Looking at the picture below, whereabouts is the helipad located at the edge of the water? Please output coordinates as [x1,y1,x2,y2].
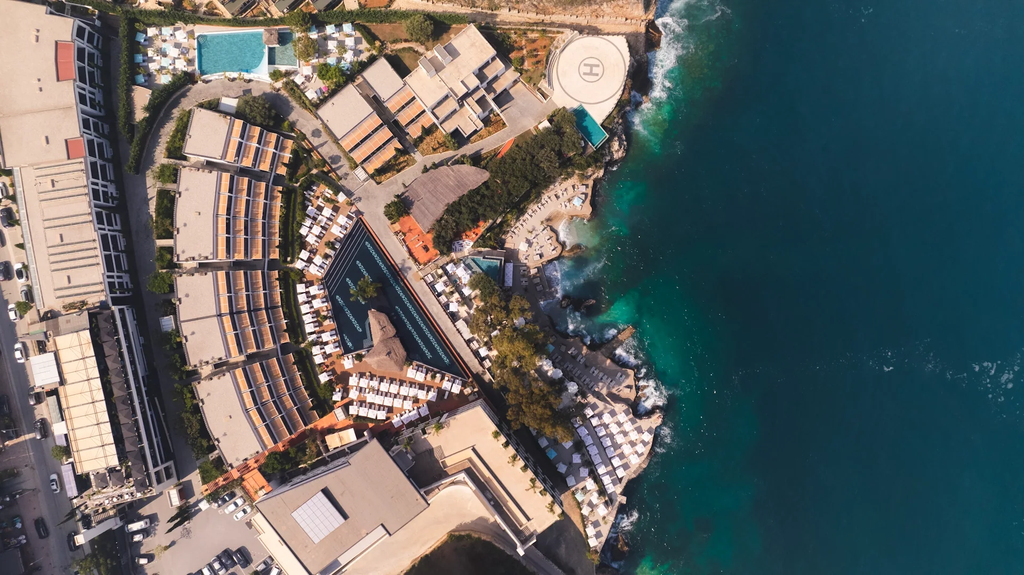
[553,35,630,123]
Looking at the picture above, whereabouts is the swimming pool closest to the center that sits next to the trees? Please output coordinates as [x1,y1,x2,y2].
[470,256,500,284]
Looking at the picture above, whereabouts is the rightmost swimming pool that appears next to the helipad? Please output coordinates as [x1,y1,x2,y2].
[572,105,608,149]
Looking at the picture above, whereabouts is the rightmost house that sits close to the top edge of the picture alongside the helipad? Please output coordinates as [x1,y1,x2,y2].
[403,23,521,146]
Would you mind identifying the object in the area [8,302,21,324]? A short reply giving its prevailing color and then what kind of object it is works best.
white vehicle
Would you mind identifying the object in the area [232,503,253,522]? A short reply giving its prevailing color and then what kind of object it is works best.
white car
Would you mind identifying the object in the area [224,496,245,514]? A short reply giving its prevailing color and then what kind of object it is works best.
white car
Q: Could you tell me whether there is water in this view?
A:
Yes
